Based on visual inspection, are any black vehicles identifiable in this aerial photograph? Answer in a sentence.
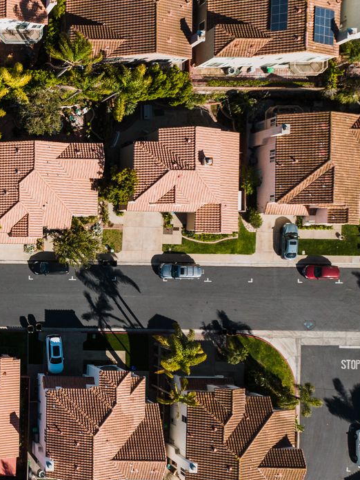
Yes, a black vehicle can be made out from above.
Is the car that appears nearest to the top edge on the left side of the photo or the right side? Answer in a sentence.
The car that appears nearest to the top edge sits on the right side.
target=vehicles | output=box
[46,334,66,374]
[279,222,301,261]
[160,262,202,280]
[29,259,69,276]
[303,264,343,282]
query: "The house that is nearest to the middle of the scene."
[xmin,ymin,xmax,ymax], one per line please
[117,125,240,234]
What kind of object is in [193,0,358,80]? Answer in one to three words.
house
